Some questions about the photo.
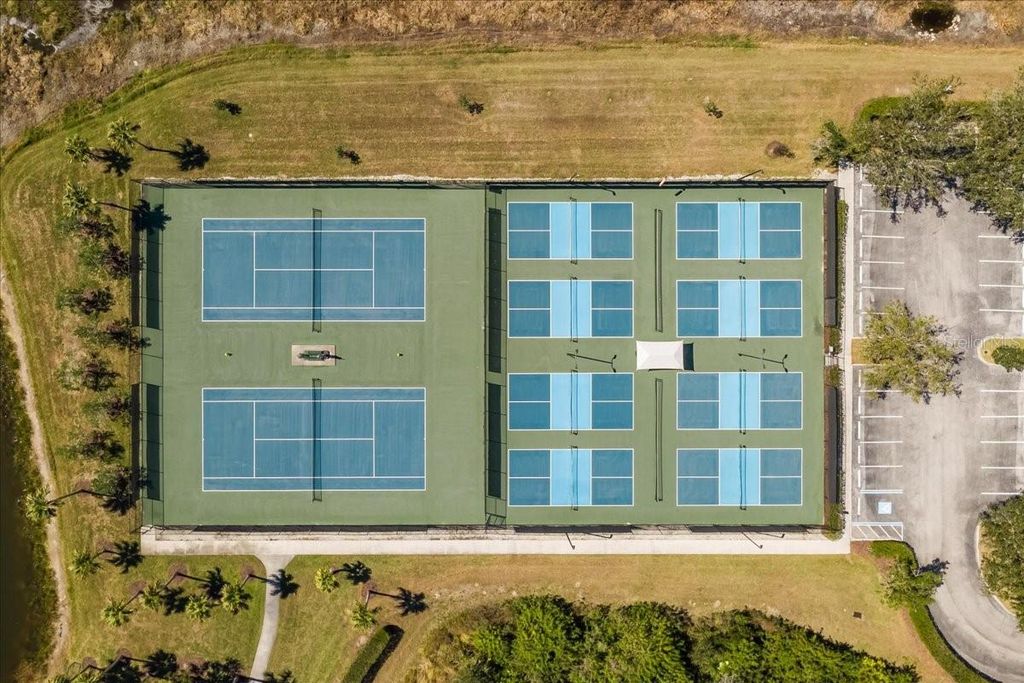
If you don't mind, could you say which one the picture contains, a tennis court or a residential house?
tennis court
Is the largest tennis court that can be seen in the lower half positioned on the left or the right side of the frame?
left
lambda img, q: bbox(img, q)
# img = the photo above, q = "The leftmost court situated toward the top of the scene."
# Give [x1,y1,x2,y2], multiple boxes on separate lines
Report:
[202,218,426,321]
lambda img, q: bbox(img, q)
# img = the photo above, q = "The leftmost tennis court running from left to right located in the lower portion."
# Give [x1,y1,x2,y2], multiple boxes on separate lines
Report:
[202,388,426,491]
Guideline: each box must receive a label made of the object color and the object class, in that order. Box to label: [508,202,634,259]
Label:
blue sports court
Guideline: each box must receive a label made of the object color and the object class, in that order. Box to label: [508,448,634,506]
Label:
blue sports court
